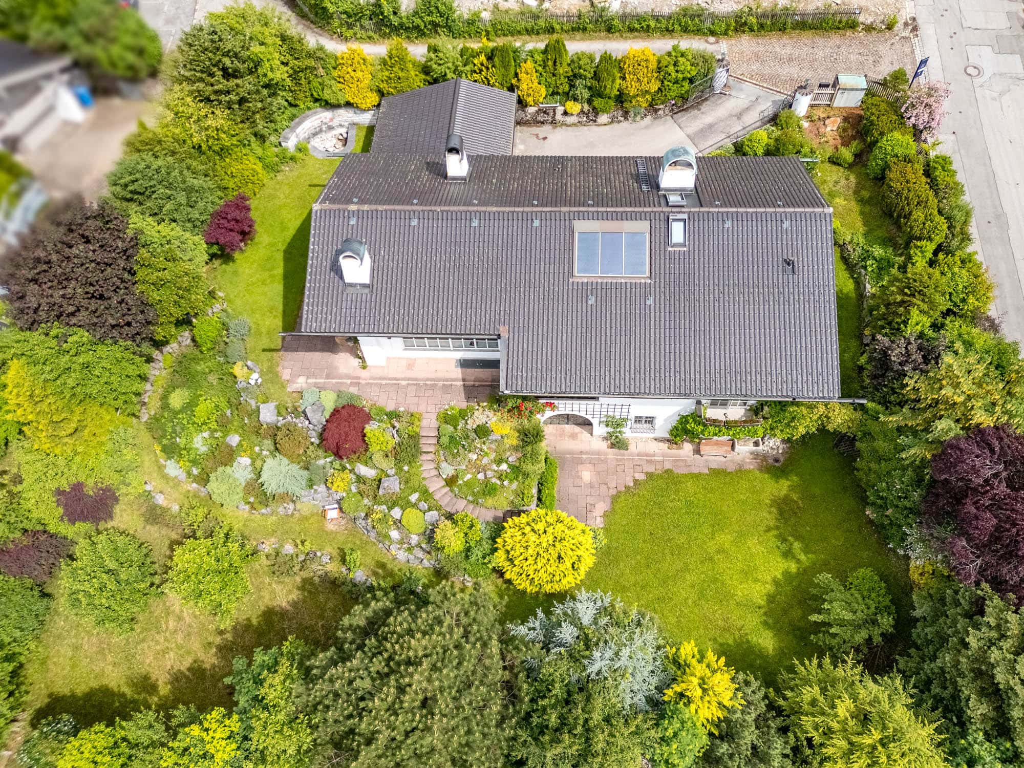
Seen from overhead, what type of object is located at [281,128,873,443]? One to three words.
house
